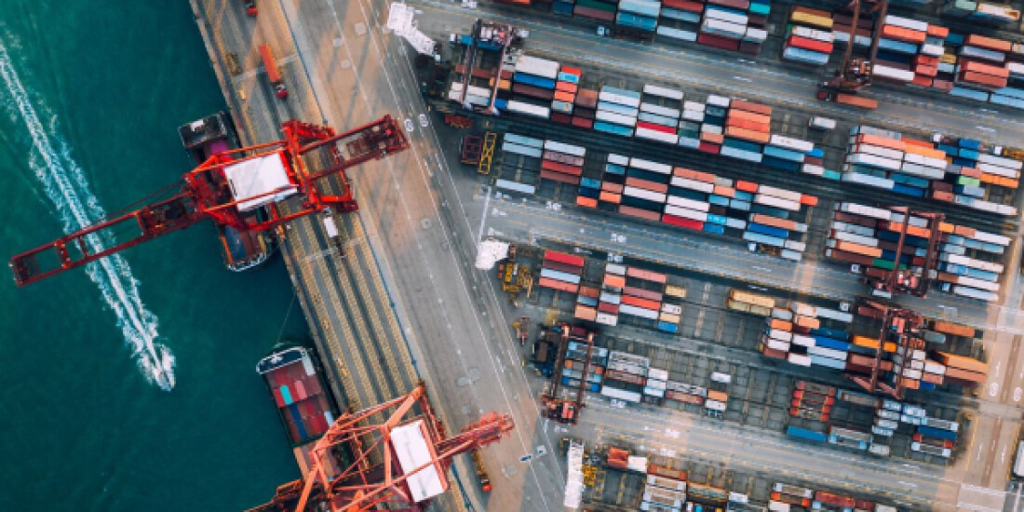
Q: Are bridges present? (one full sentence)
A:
No, I find no bridge anywhere in the image.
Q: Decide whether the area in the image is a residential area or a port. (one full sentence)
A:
This image shows a port.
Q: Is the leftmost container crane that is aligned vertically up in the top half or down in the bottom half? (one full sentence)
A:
The leftmost container crane that is aligned vertically sits in the top half of the picture.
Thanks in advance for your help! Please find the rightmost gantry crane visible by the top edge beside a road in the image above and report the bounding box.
[811,0,893,95]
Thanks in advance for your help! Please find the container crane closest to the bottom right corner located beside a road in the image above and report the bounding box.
[838,297,920,399]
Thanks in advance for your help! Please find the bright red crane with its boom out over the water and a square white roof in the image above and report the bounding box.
[10,115,406,296]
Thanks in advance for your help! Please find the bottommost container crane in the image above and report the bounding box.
[259,379,521,512]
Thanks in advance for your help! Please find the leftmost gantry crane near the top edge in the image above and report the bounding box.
[459,16,519,117]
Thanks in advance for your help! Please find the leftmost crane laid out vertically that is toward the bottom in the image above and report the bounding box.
[539,315,596,419]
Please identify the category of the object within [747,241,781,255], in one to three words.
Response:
vehicle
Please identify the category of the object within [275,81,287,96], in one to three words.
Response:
vehicle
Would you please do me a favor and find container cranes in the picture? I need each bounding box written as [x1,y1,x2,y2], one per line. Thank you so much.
[838,297,920,399]
[860,201,945,299]
[10,115,406,296]
[539,315,596,419]
[811,0,893,95]
[459,16,519,117]
[259,379,521,512]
